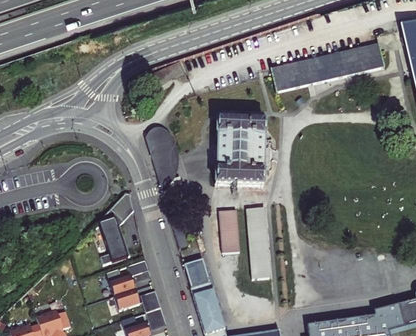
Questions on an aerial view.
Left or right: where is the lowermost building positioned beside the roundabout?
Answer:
left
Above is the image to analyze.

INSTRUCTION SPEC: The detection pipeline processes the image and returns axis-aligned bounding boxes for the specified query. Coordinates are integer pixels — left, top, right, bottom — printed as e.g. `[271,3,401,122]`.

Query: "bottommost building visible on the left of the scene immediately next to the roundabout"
[102,217,128,266]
